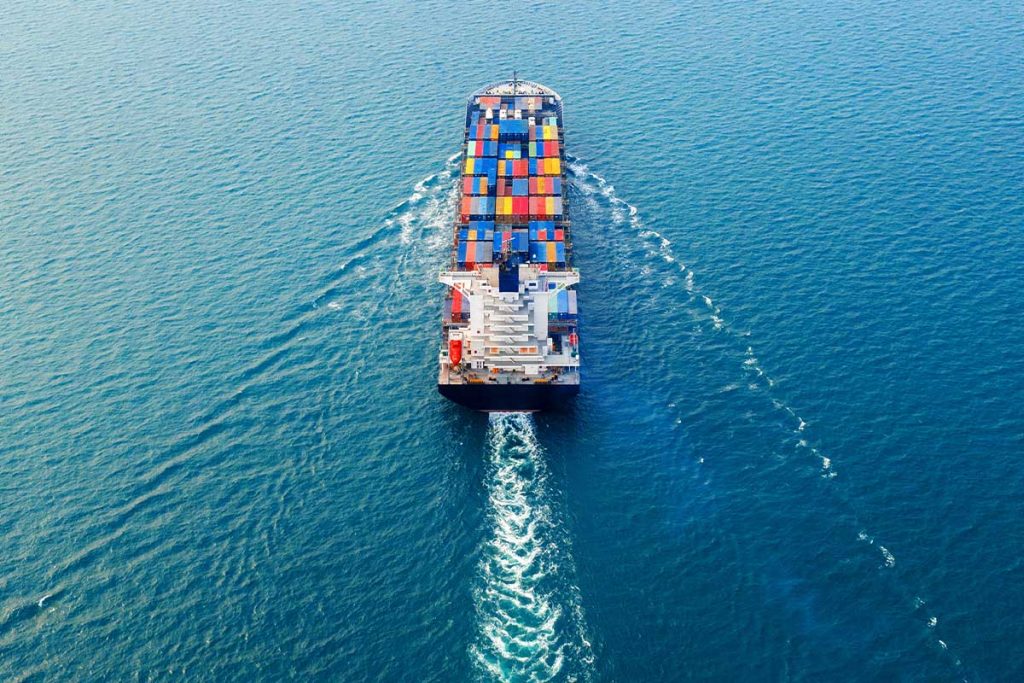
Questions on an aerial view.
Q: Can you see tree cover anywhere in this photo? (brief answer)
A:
No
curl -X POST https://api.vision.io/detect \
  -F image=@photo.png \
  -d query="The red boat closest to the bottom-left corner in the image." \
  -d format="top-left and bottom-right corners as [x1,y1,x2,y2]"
[450,337,462,367]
